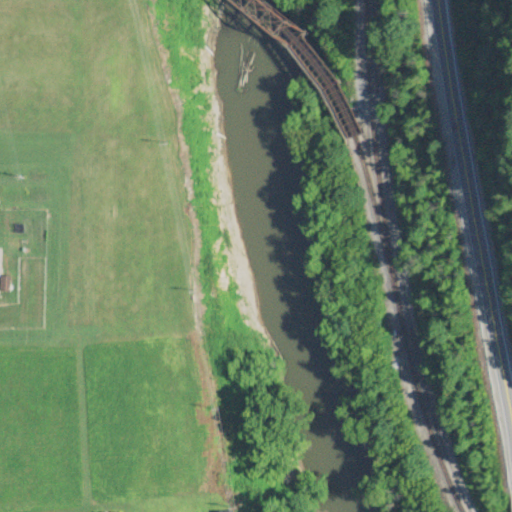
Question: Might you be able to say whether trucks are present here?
No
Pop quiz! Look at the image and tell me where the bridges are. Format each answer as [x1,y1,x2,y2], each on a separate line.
[230,0,360,136]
